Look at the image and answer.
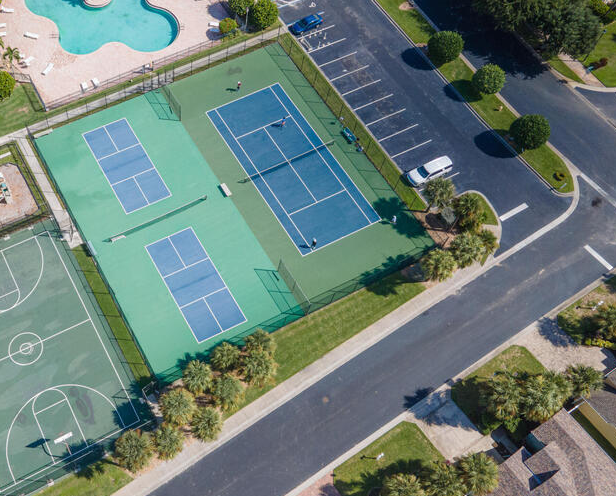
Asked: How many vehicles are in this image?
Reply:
2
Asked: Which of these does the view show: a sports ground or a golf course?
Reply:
sports ground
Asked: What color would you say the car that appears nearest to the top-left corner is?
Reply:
blue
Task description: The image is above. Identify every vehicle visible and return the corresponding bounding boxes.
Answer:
[410,154,454,184]
[289,13,324,33]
